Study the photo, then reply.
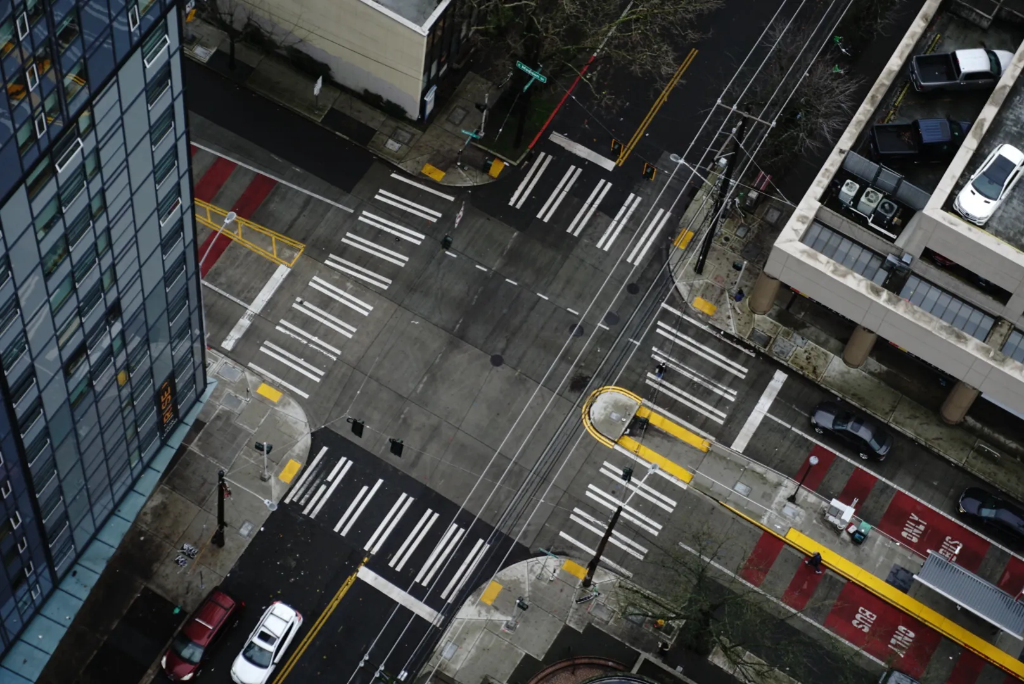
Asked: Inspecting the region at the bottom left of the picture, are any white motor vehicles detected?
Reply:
Yes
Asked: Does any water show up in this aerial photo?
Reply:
No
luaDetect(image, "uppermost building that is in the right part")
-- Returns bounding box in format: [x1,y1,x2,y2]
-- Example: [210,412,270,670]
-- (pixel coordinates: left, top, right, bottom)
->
[750,0,1024,425]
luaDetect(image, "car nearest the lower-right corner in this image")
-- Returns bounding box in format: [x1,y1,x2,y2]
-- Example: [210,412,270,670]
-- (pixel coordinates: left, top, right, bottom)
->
[953,488,1024,553]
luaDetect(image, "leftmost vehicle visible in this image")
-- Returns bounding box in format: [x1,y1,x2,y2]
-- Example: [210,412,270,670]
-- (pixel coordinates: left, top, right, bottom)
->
[166,592,246,684]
